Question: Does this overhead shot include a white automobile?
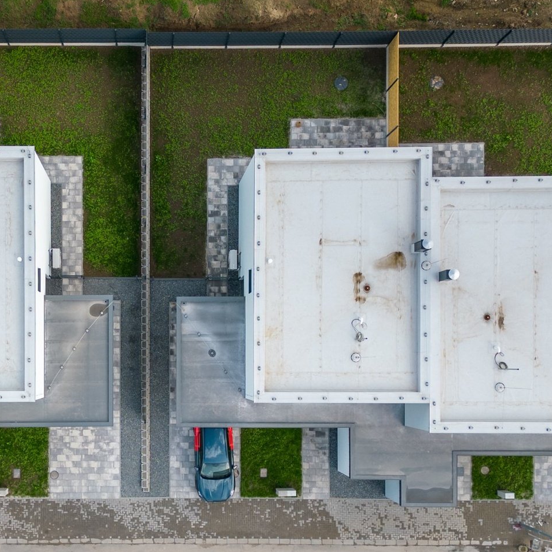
No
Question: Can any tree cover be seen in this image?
No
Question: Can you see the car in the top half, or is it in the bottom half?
bottom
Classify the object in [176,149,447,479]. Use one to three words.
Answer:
house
